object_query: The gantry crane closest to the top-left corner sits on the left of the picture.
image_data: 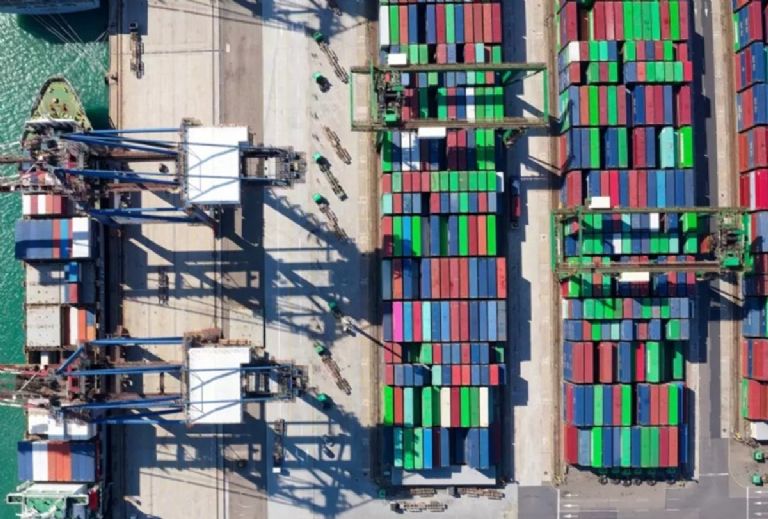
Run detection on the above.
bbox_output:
[0,123,310,242]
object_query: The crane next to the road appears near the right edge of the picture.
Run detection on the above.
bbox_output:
[551,196,751,281]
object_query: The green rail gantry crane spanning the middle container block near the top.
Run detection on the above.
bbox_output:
[351,53,550,142]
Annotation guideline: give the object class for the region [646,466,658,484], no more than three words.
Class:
vehicle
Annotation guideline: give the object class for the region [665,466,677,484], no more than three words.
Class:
vehicle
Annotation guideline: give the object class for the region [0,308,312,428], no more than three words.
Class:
container crane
